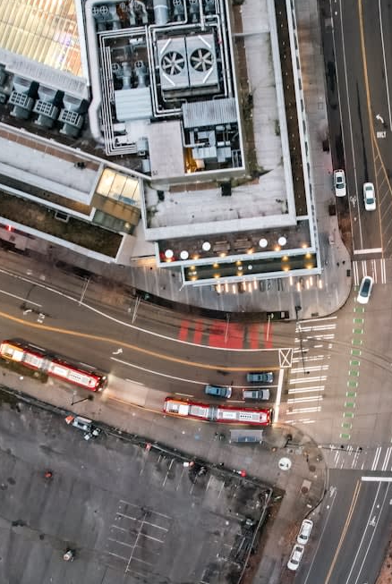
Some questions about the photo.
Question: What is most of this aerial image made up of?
paved ground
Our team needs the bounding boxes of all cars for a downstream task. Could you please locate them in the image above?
[333,169,347,197]
[357,274,373,303]
[298,517,312,545]
[204,385,233,398]
[363,181,375,212]
[287,542,304,571]
[246,371,275,385]
[242,388,270,401]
